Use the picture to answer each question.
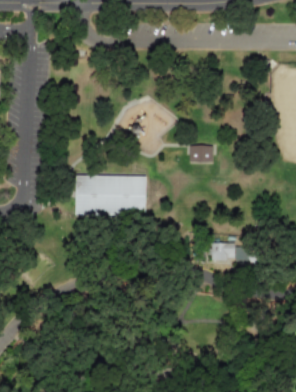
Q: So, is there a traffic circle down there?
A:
No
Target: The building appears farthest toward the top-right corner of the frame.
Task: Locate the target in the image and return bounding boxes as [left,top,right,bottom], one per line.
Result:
[186,145,216,165]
